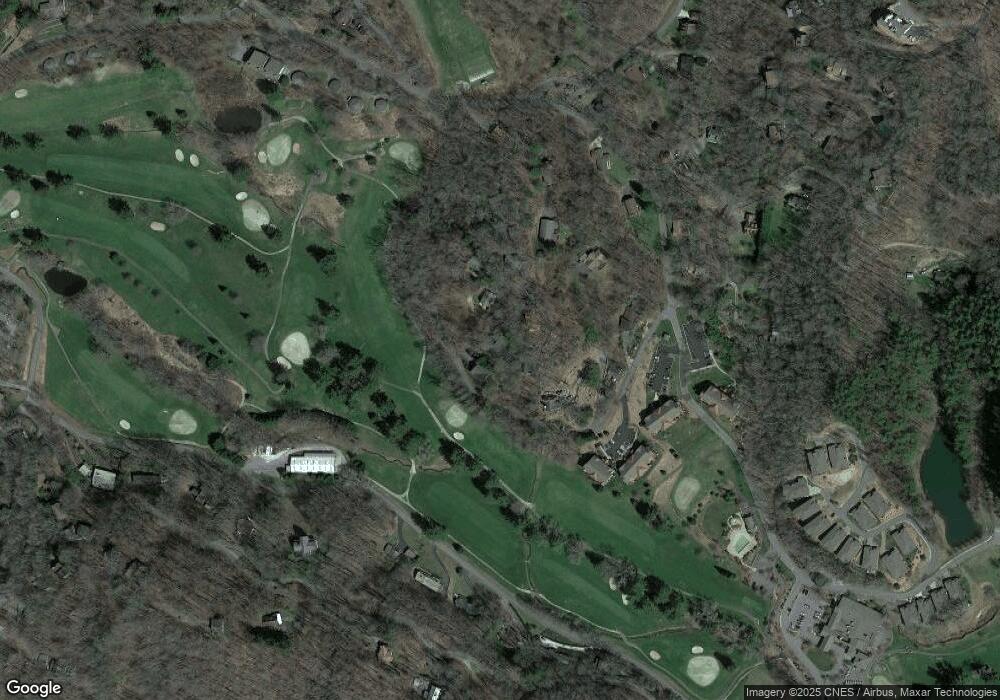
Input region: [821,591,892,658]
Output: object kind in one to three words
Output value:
building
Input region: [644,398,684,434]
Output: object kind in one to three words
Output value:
house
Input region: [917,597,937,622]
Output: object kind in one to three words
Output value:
house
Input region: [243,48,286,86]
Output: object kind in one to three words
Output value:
building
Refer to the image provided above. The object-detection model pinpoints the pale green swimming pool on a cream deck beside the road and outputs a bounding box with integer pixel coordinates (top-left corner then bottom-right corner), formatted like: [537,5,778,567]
[729,513,757,557]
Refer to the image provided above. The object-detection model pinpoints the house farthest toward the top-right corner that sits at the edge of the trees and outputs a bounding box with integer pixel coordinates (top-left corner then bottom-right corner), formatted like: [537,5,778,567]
[880,5,907,37]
